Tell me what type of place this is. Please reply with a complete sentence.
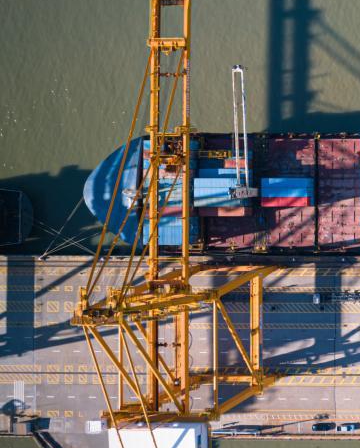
It's a port.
